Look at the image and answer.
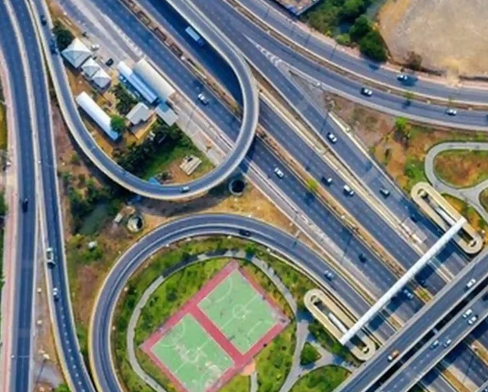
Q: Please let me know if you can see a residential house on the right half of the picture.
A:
No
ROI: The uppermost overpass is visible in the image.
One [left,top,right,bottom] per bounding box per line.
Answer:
[29,0,259,199]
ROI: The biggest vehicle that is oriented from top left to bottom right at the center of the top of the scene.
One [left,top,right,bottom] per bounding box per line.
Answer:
[183,24,203,43]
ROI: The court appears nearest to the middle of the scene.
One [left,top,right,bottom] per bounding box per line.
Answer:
[189,261,290,363]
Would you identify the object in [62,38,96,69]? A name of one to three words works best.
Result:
house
